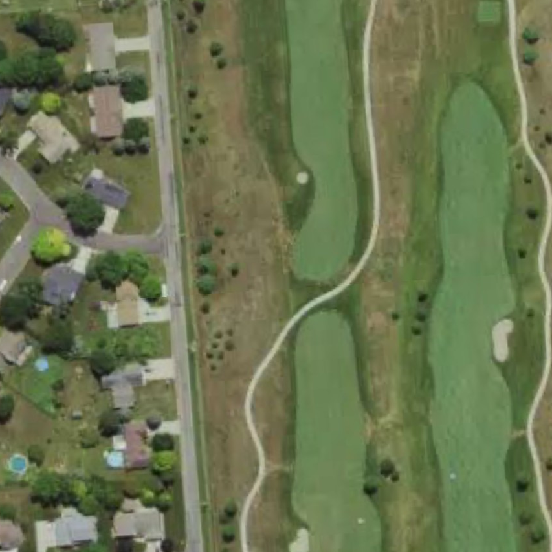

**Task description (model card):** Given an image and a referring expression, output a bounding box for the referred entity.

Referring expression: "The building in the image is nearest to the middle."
[116,281,139,327]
